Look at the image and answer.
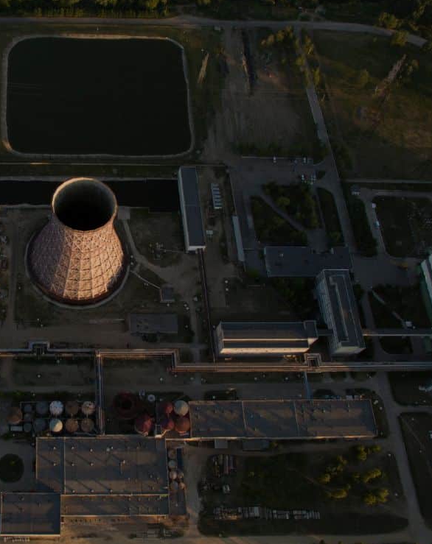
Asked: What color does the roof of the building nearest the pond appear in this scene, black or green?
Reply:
black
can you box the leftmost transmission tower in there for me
[193,52,206,87]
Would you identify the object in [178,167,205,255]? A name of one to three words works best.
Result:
building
